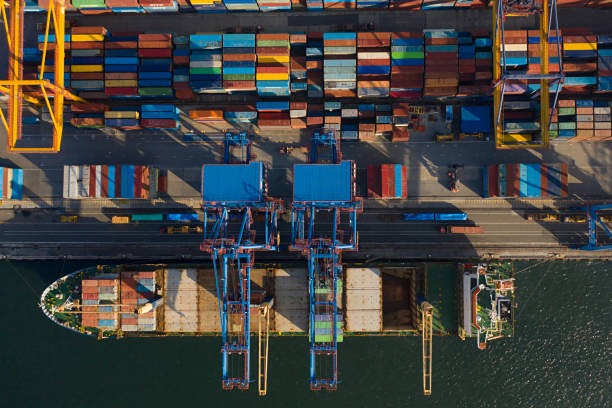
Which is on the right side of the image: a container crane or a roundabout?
container crane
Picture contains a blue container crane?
Yes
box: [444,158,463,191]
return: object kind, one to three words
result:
work vehicle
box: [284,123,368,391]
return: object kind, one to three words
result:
container crane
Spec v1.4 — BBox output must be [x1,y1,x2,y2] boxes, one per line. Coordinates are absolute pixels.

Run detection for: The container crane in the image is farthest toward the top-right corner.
[465,0,568,149]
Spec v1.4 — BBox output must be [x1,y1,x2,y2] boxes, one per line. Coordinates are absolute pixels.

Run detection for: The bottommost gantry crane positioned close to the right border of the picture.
[570,204,612,250]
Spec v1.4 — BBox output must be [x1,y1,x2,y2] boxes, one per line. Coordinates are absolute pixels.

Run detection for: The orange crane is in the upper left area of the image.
[0,0,94,153]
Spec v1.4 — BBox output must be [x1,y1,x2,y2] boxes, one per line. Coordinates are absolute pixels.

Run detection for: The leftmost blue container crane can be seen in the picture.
[197,123,284,391]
